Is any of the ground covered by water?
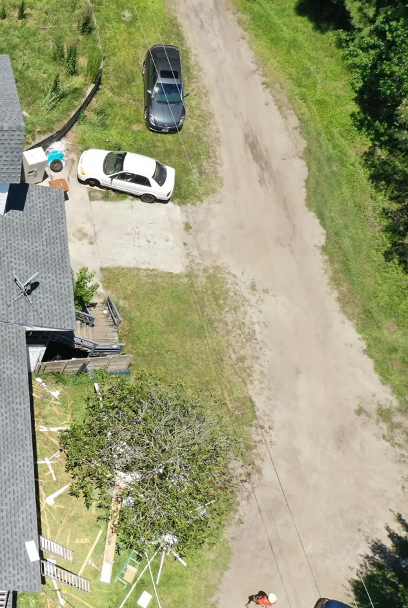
No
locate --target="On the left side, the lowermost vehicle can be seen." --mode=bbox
[79,150,176,208]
